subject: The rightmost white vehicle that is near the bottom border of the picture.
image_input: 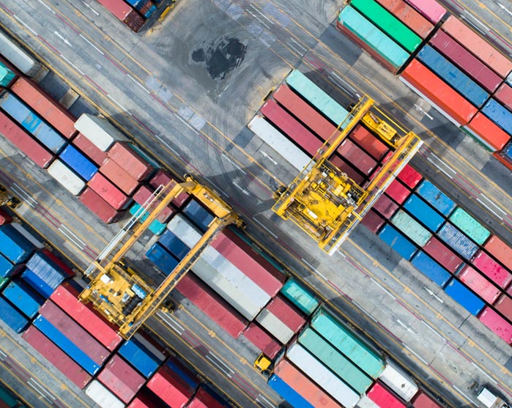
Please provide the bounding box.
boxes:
[476,386,510,408]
